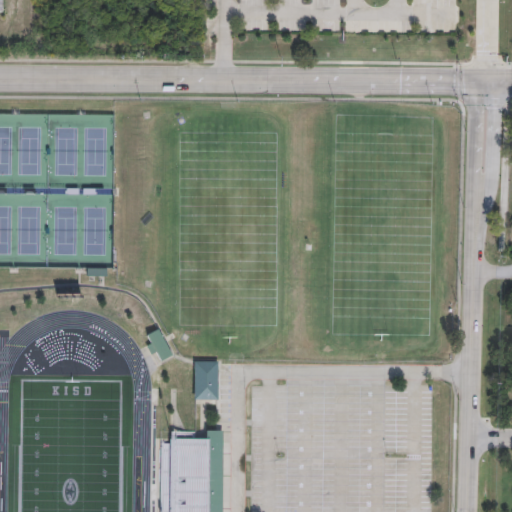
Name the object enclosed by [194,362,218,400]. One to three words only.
building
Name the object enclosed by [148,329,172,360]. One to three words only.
building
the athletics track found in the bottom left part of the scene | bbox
[0,310,152,512]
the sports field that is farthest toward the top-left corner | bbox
[177,131,280,328]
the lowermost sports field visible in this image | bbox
[8,376,133,512]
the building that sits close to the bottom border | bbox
[160,432,224,512]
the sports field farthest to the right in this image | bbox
[330,112,434,338]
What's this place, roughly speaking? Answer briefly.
sports ground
